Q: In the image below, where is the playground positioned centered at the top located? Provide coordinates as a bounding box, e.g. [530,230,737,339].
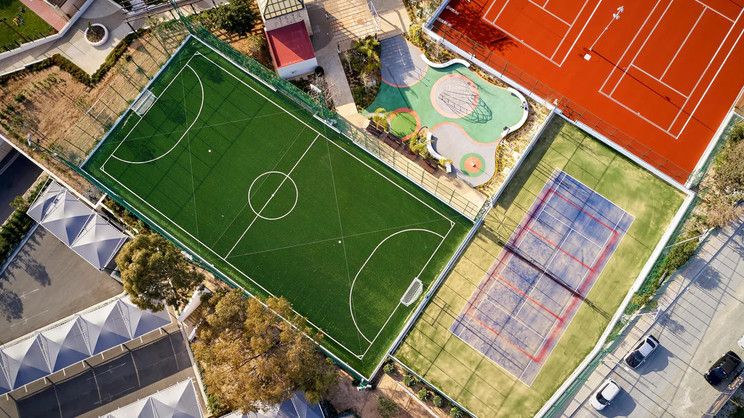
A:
[365,35,525,188]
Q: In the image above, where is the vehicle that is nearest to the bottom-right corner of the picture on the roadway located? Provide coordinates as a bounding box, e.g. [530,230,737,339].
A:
[706,349,744,390]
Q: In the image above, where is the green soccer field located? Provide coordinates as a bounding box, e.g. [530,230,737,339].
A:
[82,37,477,379]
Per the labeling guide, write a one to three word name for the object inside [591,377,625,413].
car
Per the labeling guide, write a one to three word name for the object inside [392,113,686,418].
tennis court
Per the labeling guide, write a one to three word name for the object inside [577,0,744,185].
tennis court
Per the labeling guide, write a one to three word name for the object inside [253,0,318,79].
building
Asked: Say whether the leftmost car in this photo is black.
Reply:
No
